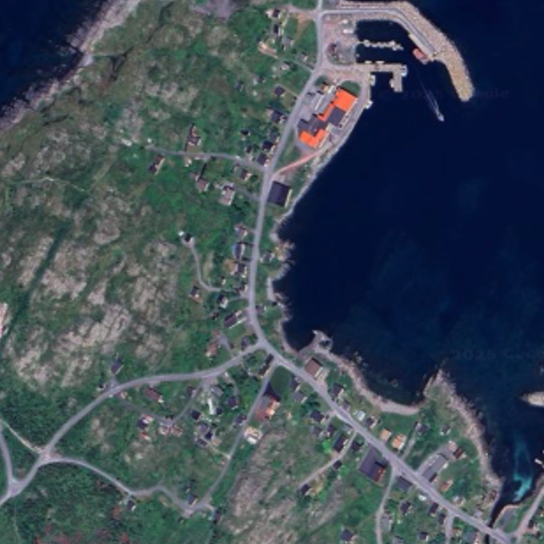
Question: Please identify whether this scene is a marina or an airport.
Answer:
marina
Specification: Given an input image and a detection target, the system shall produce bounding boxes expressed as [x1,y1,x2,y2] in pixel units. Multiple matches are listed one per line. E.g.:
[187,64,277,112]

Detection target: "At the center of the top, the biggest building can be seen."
[297,84,362,147]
